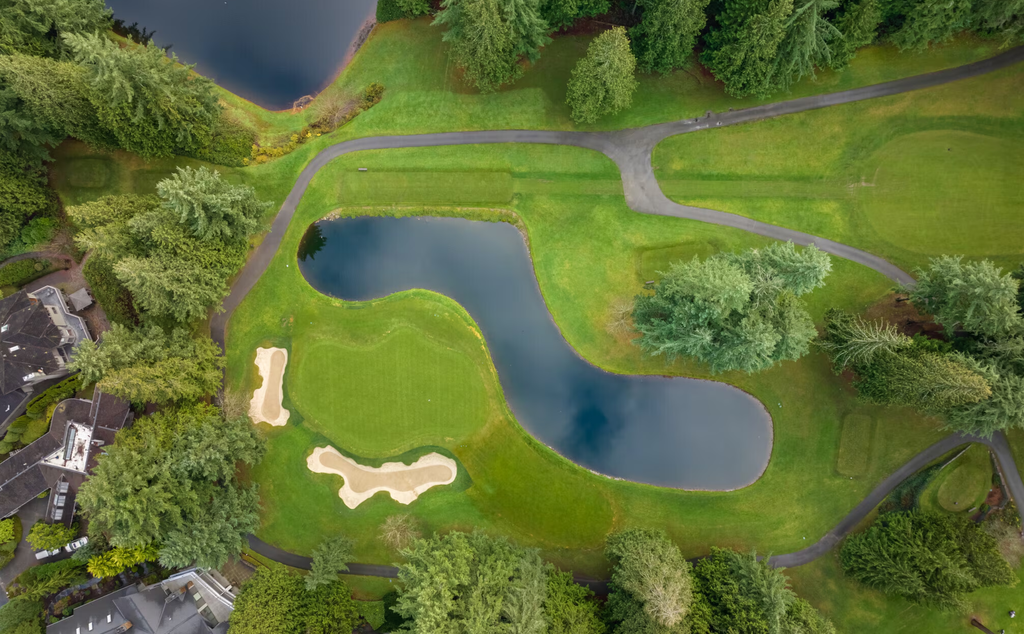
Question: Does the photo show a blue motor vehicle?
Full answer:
No, there appears to be no blue motor vehicle in this shot.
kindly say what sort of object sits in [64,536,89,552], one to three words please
car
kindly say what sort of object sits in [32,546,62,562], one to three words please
vehicle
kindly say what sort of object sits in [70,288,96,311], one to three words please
gazebo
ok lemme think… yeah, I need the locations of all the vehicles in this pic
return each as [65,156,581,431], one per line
[32,546,62,562]
[64,536,89,552]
